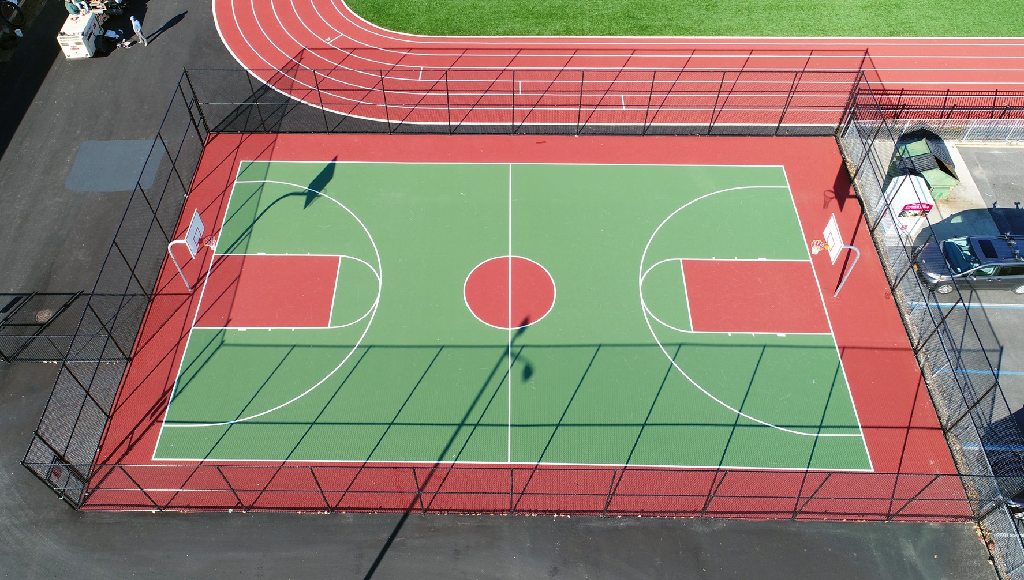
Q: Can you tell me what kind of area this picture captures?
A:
sports ground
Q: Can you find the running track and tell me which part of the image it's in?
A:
top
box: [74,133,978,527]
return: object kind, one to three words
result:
basketball court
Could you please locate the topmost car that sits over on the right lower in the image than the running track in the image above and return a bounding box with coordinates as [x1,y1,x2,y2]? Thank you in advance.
[912,234,1024,295]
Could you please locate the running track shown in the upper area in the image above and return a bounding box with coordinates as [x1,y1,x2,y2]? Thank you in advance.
[211,0,1024,127]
